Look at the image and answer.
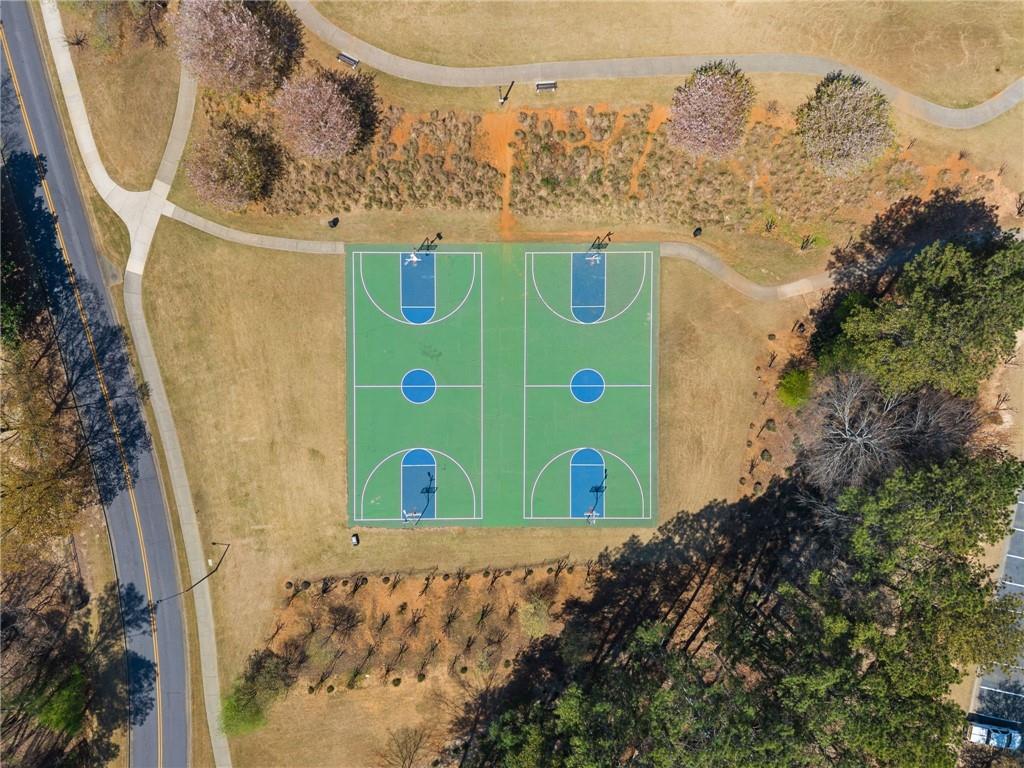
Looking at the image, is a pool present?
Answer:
No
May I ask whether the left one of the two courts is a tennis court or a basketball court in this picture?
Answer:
basketball court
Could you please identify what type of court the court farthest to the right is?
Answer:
basketball court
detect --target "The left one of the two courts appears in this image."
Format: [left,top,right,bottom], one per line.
[346,244,503,528]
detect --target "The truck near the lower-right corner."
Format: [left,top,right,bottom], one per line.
[970,724,1024,752]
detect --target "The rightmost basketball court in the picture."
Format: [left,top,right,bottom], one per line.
[503,243,660,527]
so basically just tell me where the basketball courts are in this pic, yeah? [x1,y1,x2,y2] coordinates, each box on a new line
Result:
[346,244,503,528]
[503,243,660,527]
